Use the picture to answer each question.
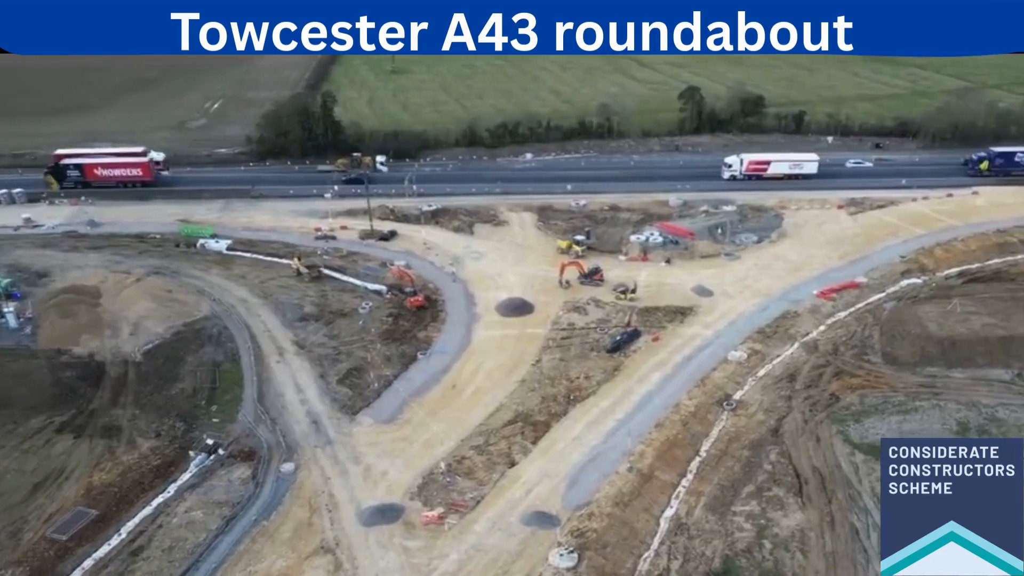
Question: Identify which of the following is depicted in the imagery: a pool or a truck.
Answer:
truck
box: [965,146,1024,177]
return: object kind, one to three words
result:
truck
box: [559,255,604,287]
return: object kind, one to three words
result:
work vehicle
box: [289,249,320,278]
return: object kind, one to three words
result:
truck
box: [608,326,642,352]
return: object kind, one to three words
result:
car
